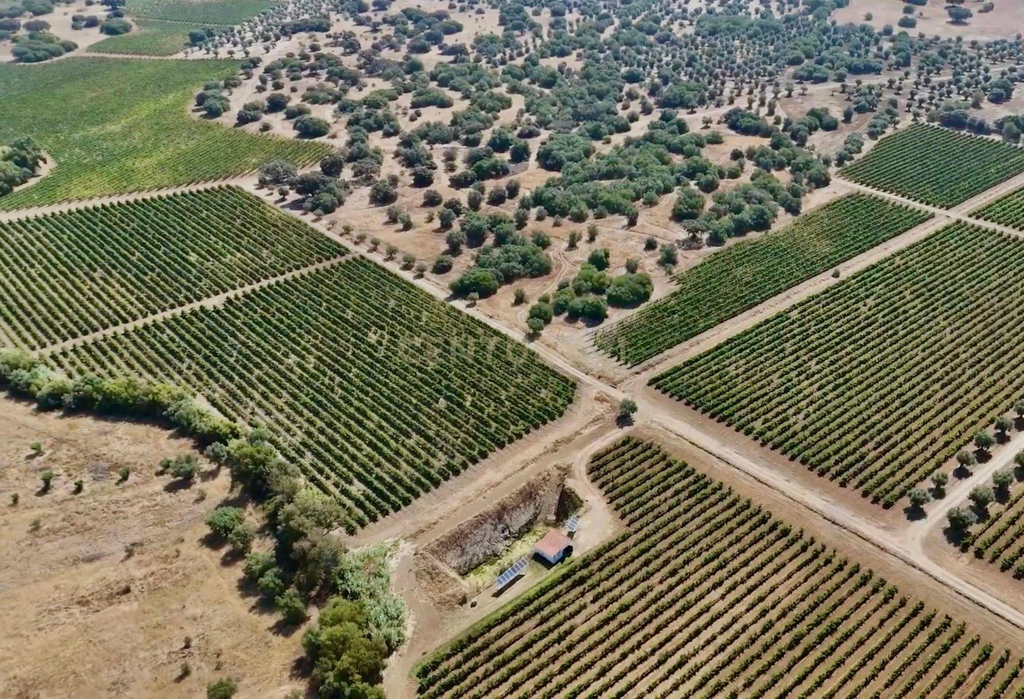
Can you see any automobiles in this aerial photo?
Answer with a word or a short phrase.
No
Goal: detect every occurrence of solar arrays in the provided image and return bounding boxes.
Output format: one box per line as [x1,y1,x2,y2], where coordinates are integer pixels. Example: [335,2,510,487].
[566,519,581,534]
[494,563,530,590]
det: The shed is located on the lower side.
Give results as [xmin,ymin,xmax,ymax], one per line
[531,531,575,569]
